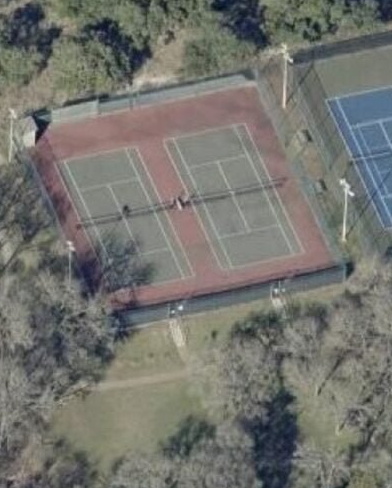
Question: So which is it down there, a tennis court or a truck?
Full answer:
The image shows a tennis court.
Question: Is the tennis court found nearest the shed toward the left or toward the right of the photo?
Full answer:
It is on the left.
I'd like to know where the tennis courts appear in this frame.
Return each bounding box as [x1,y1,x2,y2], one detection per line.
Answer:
[164,122,304,269]
[327,87,392,229]
[55,146,194,293]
